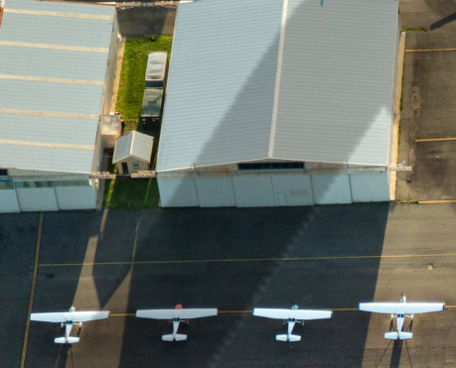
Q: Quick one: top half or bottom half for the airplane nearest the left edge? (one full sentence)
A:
It is in the bottom half that the airplane nearest the left edge appears.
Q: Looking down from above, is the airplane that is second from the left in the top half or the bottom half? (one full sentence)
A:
The airplane that is second from the left sits in the bottom half of the picture.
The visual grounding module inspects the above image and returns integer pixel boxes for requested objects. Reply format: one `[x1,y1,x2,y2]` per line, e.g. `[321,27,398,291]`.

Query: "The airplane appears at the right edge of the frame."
[359,293,445,339]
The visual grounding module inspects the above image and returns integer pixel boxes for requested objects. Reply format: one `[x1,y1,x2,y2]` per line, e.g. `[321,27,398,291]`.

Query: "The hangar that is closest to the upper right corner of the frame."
[131,0,411,208]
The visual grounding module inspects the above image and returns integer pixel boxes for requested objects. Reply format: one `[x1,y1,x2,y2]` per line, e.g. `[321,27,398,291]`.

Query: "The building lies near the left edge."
[0,0,146,213]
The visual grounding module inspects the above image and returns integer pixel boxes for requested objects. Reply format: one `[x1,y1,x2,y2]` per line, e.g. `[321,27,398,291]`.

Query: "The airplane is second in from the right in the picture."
[254,302,333,343]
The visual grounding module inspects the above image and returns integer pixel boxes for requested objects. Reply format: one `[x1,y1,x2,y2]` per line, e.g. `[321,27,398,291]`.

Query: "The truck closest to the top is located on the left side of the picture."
[146,52,169,97]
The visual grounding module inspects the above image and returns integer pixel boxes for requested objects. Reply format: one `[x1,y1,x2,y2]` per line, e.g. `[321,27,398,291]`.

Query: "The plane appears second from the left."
[136,299,218,343]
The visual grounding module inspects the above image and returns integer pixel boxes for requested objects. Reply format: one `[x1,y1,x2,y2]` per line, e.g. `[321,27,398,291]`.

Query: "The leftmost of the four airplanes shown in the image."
[30,305,109,345]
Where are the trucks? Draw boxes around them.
[142,90,163,138]
[146,52,169,97]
